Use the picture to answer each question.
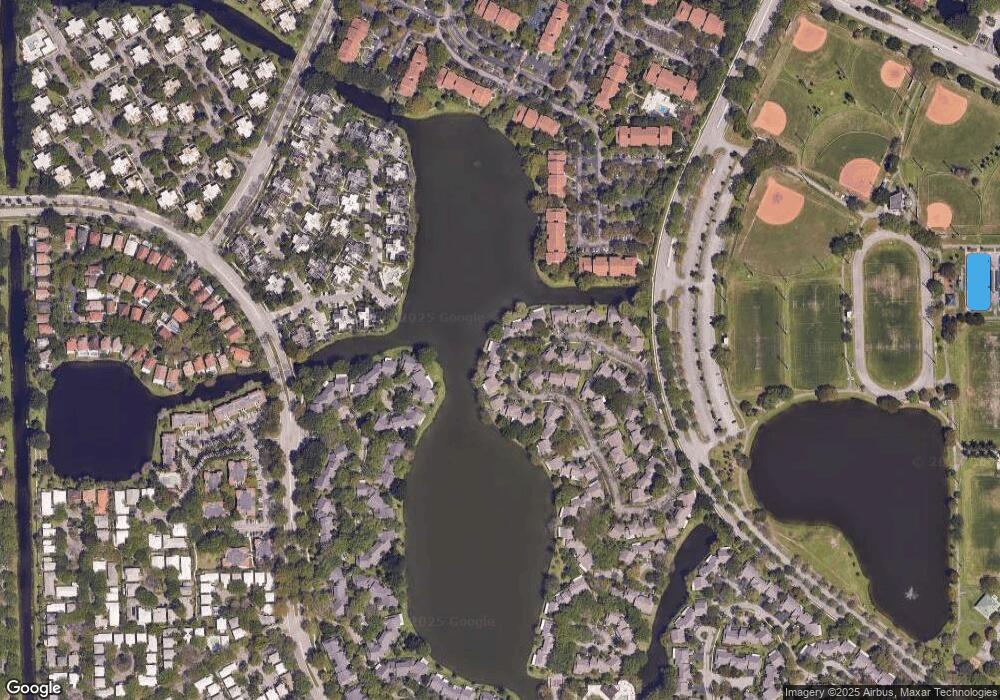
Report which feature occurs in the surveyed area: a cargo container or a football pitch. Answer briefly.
football pitch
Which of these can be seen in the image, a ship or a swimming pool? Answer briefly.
swimming pool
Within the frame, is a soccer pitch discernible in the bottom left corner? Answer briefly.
No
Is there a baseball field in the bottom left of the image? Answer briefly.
No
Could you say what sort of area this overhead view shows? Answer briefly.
residential area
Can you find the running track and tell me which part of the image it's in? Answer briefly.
right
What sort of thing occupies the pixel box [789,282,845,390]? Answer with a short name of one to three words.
soccer field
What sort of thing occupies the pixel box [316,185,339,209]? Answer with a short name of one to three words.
house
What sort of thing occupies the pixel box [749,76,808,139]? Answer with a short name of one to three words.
baseball field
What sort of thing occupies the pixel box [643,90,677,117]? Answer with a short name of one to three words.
swimming pool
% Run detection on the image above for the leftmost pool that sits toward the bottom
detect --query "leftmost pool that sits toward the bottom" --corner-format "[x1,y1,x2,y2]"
[159,472,181,489]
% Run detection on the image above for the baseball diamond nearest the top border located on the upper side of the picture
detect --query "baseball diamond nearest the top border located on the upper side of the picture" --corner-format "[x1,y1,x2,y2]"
[782,8,852,70]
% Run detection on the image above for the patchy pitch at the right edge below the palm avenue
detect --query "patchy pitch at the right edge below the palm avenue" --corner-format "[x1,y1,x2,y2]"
[972,474,1000,580]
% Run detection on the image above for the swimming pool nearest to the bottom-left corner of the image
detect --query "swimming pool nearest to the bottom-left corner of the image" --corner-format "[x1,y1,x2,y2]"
[208,636,221,652]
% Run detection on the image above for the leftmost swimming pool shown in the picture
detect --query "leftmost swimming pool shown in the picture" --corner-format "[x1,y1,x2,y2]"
[24,36,41,53]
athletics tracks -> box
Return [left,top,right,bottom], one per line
[854,229,932,396]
